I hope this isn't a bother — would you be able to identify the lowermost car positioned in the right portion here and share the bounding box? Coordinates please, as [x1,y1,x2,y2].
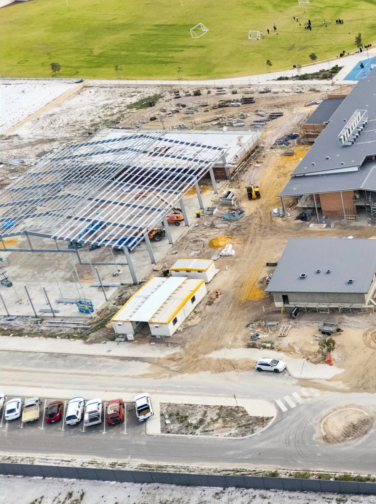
[254,358,286,372]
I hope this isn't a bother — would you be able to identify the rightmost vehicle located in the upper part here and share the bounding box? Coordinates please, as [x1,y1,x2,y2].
[242,183,264,201]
